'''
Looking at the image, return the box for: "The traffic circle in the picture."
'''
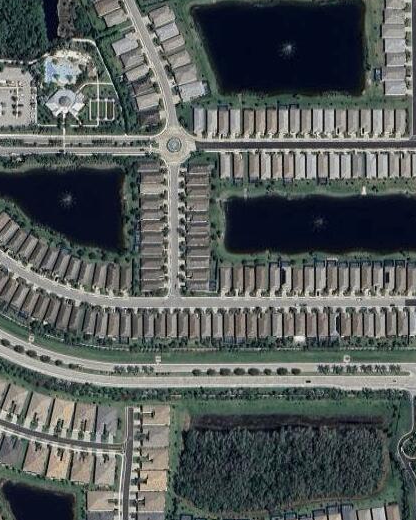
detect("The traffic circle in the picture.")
[152,124,196,168]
